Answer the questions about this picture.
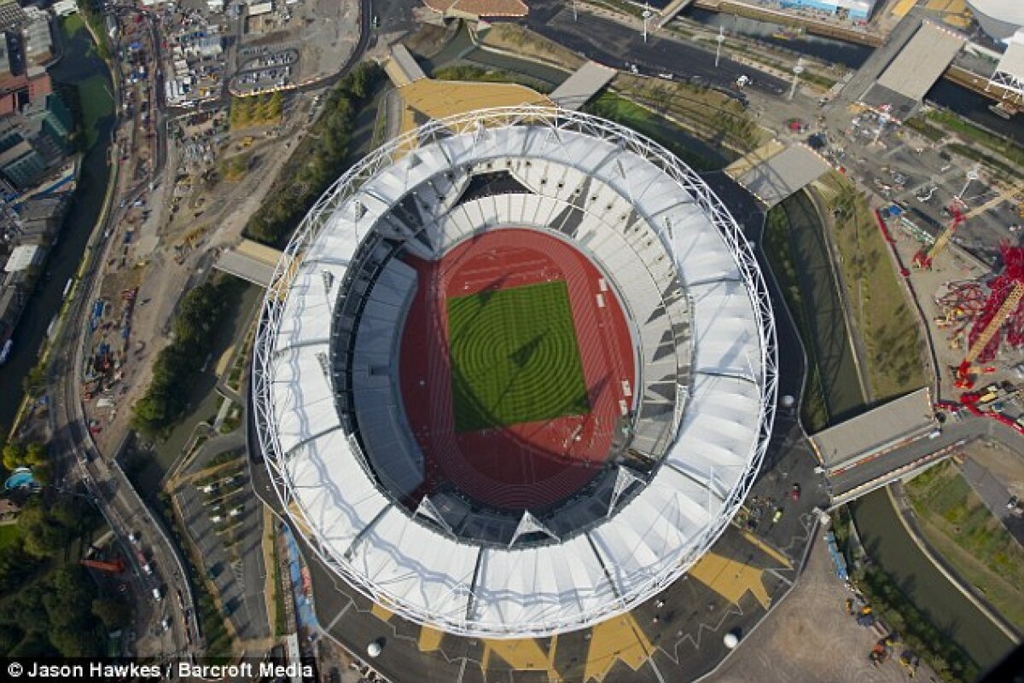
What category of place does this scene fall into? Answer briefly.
sports ground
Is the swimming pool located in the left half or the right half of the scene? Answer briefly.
left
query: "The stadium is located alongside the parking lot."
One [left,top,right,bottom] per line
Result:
[253,104,780,641]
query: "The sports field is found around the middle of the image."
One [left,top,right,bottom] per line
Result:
[448,281,589,432]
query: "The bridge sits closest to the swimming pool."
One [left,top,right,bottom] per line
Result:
[72,408,201,683]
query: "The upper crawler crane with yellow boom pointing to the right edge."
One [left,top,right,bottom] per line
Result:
[910,183,1024,267]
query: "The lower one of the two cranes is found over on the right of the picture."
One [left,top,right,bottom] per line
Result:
[954,283,1024,388]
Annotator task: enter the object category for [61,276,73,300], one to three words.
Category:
boat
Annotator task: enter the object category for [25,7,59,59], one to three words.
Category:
building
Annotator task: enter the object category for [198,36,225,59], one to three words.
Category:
building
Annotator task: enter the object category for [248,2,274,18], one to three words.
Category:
shed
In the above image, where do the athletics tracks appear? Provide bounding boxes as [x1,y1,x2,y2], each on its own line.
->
[428,231,622,505]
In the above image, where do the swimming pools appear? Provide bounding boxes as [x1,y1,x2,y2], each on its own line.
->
[2,466,35,489]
